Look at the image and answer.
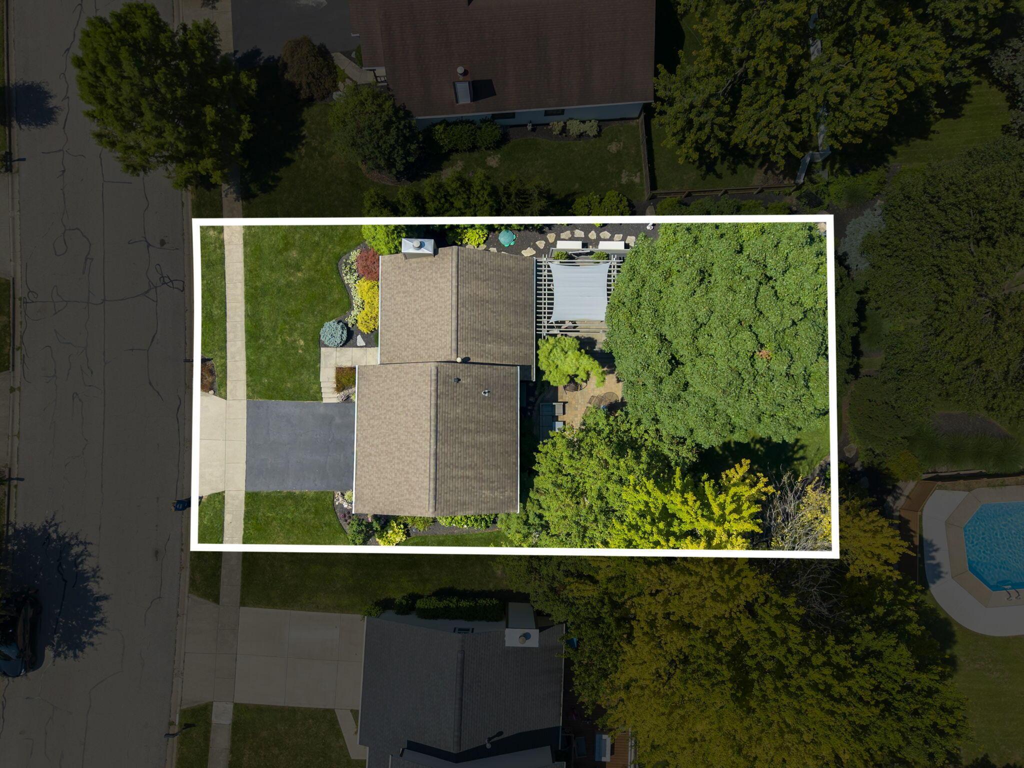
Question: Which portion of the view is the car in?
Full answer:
Look in the bottom left portion of the view to spot the car.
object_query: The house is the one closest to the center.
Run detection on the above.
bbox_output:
[351,239,536,518]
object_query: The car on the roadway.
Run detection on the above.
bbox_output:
[0,589,41,670]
